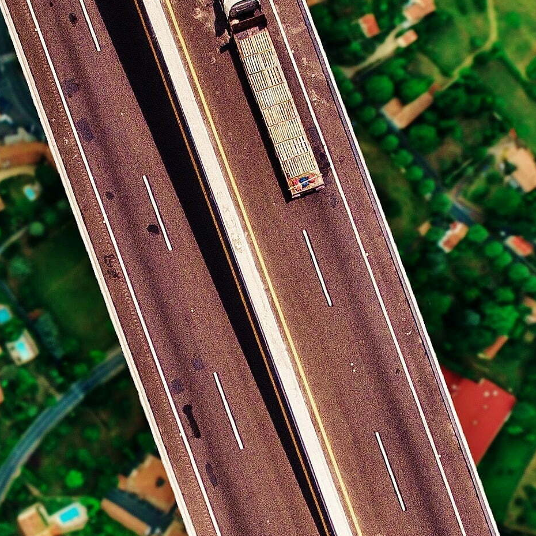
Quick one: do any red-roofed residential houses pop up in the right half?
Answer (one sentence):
Yes, the scene does show a red-roofed residential house in the right half.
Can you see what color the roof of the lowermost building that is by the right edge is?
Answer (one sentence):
The roof over the lowermost building that is by the right edge appears red.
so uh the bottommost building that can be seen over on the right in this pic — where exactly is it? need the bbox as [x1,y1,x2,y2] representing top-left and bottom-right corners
[434,356,518,468]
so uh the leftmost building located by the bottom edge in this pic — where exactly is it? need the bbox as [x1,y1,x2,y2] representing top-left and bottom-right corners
[17,499,61,536]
